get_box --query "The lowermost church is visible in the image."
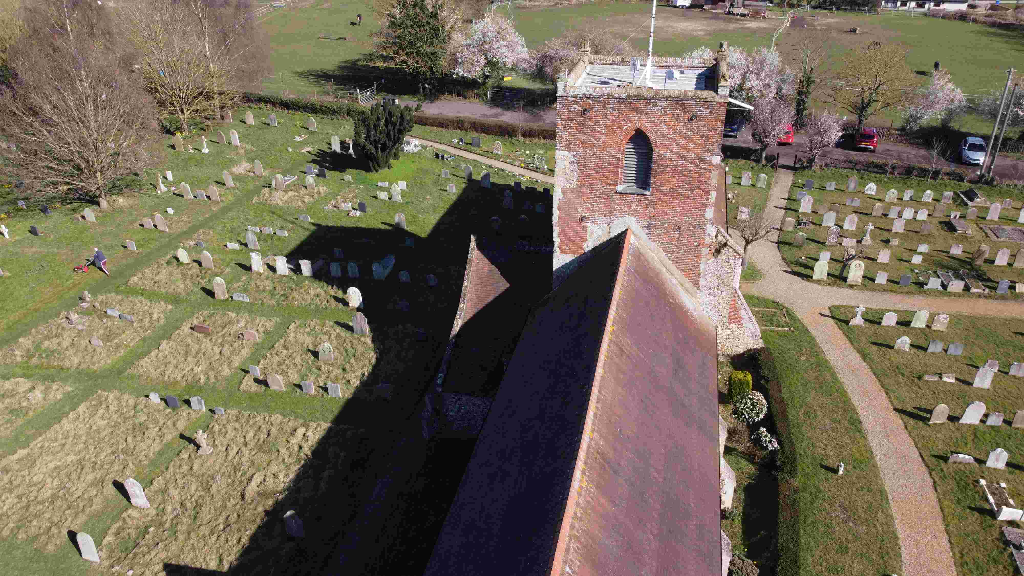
[418,53,768,576]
